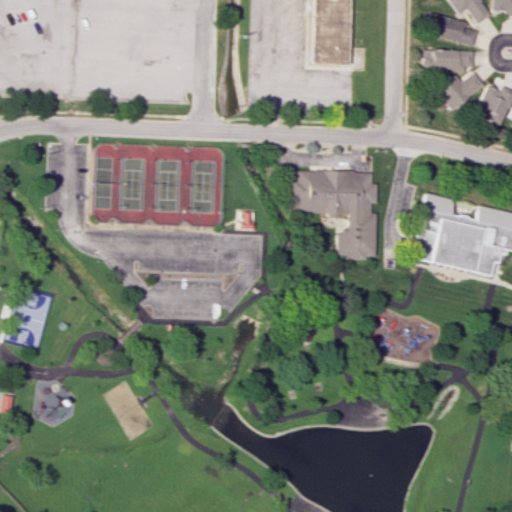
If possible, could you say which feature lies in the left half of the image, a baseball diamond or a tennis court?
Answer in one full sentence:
There is a tennis court in the left half of the image.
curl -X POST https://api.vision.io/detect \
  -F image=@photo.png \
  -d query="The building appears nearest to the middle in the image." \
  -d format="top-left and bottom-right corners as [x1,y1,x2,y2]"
[235,209,256,230]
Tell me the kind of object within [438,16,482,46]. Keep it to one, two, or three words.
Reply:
house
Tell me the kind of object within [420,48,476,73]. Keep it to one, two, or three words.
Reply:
house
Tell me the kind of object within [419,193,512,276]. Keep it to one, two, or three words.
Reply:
building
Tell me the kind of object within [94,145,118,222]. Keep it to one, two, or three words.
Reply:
tennis court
